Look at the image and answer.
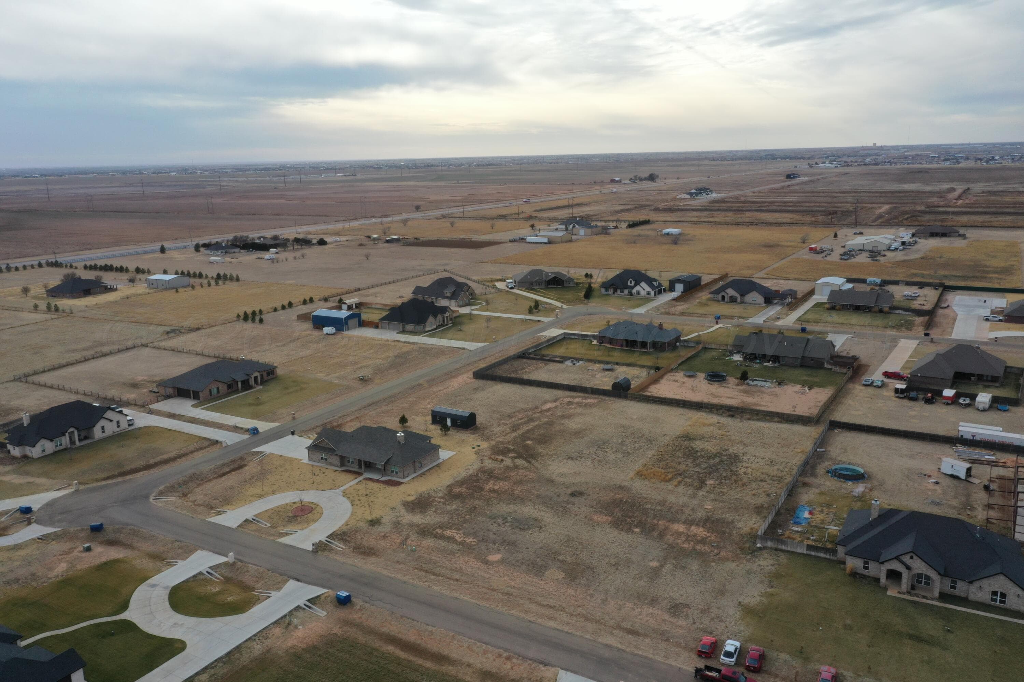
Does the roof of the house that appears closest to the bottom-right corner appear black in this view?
Yes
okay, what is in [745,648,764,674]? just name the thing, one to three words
car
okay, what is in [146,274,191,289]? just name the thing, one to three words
shed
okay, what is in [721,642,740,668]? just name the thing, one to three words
car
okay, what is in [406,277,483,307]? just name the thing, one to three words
house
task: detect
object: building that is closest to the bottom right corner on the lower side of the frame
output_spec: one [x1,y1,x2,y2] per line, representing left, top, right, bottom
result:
[830,490,1024,612]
